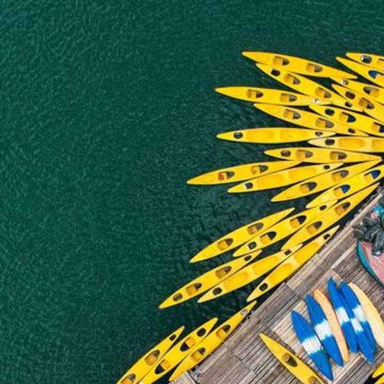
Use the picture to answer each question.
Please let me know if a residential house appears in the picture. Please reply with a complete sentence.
No, there's no residential house here.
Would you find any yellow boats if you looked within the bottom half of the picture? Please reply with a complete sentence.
Yes, looking within the bottom half of the picture, one can make out a yellow boat.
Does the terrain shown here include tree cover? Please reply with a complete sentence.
No, the scene doesn't show any tree cover.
